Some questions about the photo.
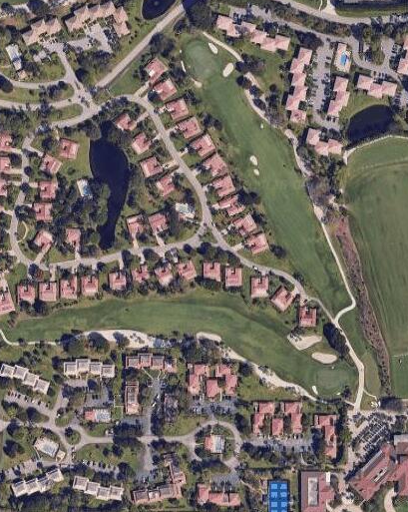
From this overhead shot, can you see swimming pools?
Yes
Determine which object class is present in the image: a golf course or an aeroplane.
golf course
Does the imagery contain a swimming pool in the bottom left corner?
Yes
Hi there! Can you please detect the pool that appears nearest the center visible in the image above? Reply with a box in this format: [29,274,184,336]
[176,202,193,219]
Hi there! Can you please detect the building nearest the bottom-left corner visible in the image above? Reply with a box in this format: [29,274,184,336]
[11,468,64,497]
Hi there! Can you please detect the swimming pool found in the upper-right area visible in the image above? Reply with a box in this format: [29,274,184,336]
[335,44,351,72]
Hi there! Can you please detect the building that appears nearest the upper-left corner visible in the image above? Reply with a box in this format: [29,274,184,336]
[20,18,62,48]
